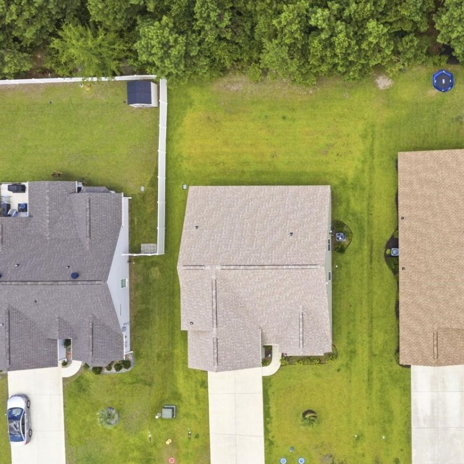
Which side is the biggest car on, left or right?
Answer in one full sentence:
The biggest car appears in the left half of the scene.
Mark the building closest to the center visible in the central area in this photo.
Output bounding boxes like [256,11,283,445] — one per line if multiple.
[178,187,333,373]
